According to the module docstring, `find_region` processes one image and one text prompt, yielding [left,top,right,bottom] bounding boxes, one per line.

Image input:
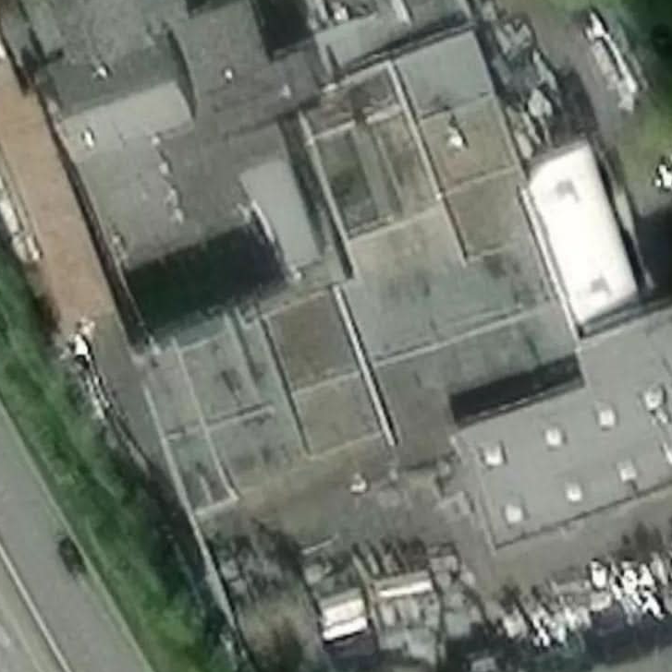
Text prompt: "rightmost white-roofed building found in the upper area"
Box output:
[528,136,642,330]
